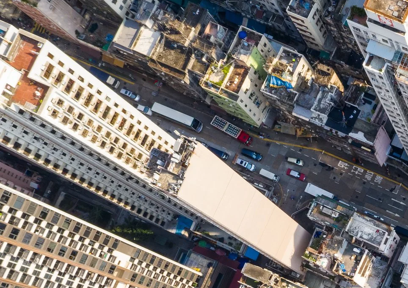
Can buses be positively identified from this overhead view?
Yes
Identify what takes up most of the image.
buildings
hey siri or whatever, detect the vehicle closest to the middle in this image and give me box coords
[209,146,229,160]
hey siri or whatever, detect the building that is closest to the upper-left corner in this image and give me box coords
[2,0,88,42]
